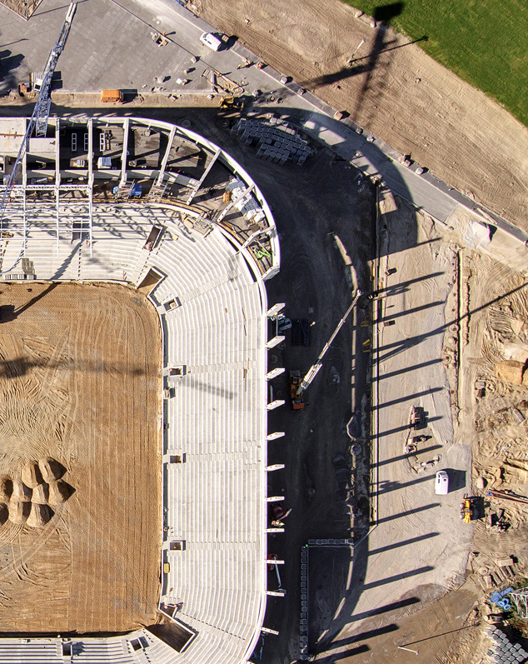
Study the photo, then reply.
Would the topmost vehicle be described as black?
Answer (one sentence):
No, the color of the topmost vehicle is white.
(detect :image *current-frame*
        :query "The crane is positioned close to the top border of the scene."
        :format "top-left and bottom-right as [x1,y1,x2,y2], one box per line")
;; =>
[0,1,77,213]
